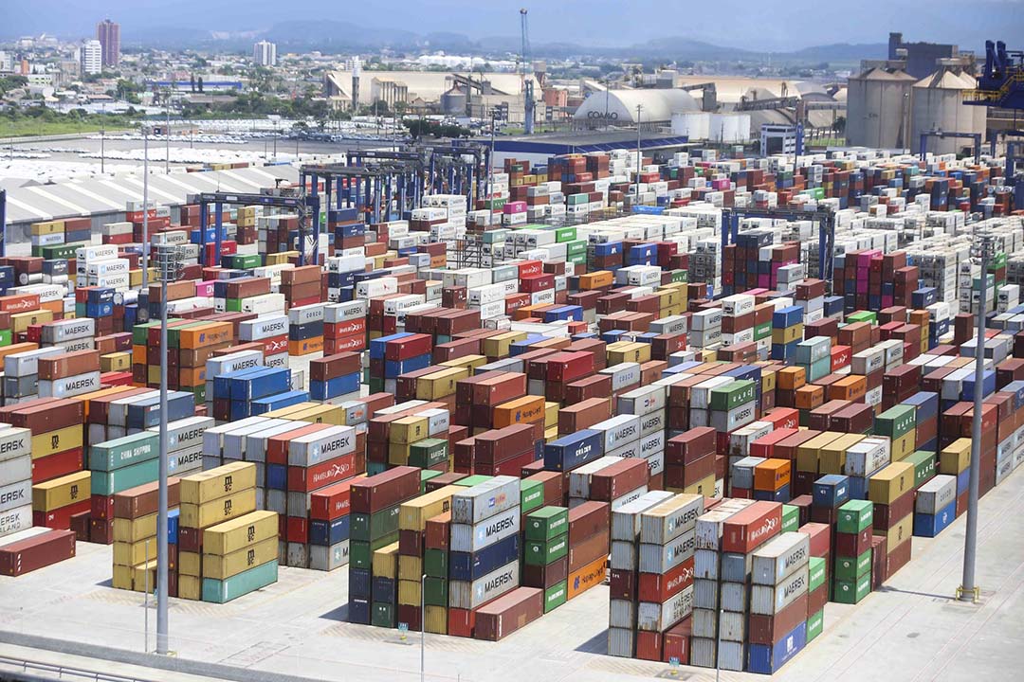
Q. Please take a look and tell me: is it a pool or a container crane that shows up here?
container crane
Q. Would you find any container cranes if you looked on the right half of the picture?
Yes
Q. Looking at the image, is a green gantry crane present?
No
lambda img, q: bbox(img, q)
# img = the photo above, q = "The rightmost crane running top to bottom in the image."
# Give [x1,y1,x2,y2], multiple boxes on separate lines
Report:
[966,42,1024,199]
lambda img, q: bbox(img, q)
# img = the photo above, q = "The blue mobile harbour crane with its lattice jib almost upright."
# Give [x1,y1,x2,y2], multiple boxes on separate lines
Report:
[521,6,539,132]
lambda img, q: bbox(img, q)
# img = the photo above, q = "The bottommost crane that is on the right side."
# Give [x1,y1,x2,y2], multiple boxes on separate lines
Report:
[714,192,836,293]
